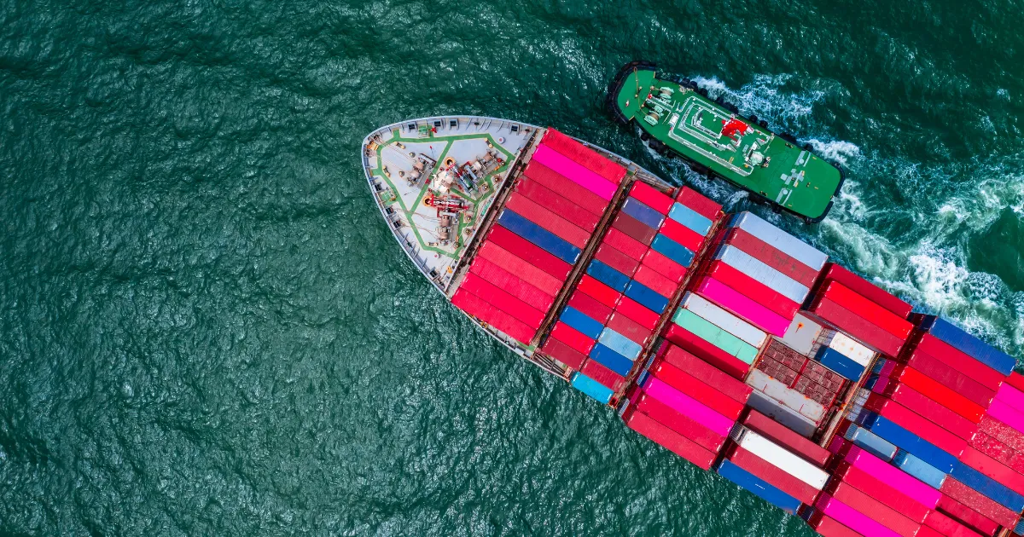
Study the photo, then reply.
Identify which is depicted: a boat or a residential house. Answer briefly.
boat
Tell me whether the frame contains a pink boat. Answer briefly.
No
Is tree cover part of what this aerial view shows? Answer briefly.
No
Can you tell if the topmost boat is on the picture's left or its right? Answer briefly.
right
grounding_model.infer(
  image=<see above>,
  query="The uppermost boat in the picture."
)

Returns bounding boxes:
[605,58,846,227]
